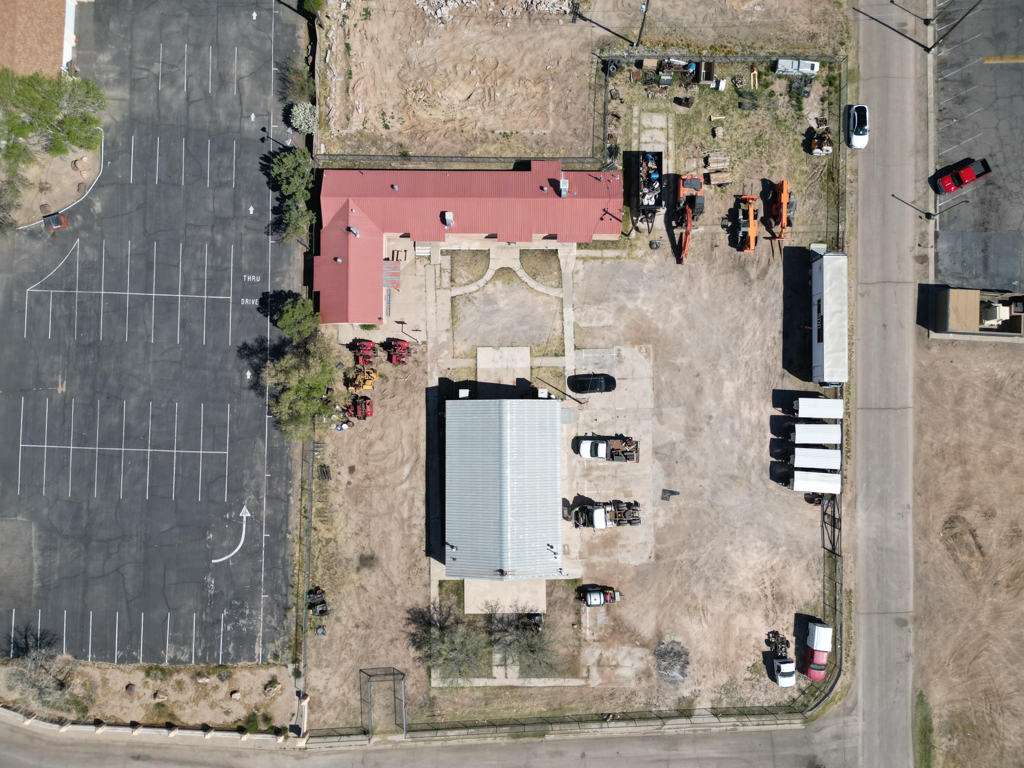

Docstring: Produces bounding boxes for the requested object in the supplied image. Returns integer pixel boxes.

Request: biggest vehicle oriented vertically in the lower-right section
[808,623,838,681]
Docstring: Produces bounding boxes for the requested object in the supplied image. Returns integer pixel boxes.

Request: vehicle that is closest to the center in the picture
[573,373,617,395]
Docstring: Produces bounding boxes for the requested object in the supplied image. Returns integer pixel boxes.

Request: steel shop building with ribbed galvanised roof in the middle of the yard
[445,389,566,580]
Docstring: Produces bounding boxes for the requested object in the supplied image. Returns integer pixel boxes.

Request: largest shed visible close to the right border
[934,289,980,333]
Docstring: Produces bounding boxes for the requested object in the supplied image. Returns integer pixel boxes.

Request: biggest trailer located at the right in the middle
[808,253,848,387]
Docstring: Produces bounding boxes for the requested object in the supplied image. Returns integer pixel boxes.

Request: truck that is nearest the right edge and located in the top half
[936,156,998,197]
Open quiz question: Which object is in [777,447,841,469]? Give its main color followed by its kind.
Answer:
white trailer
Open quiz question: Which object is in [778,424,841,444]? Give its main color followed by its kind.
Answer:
white trailer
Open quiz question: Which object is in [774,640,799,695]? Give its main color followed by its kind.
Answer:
white truck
